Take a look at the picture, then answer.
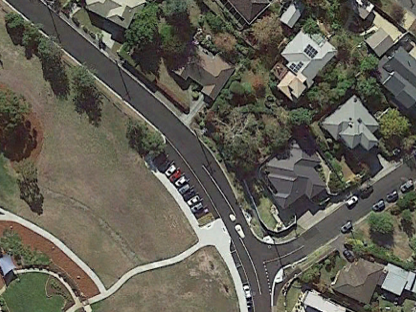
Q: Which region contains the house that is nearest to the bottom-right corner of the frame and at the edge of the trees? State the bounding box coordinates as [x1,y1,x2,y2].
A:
[381,265,416,295]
